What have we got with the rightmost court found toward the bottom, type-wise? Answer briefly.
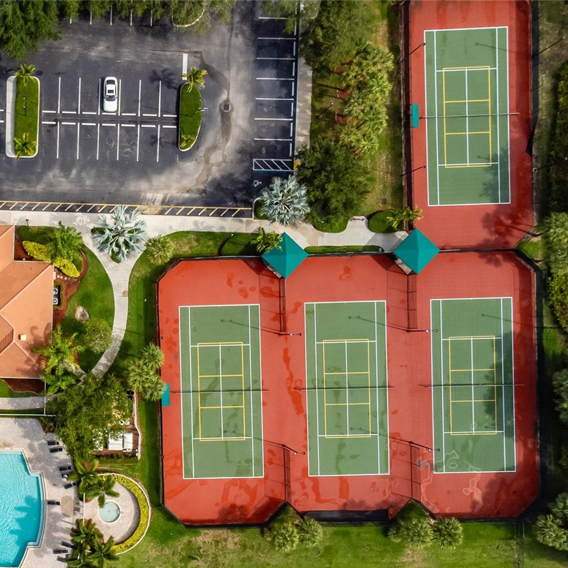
tennis court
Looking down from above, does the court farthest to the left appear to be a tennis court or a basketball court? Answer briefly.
tennis court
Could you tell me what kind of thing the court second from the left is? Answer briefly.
tennis court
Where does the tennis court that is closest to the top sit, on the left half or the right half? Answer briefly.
right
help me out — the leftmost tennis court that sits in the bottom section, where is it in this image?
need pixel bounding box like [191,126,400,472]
[156,258,285,525]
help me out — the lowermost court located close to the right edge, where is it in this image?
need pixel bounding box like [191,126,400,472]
[409,250,540,521]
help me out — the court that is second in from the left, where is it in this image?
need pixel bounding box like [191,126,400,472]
[282,253,412,522]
